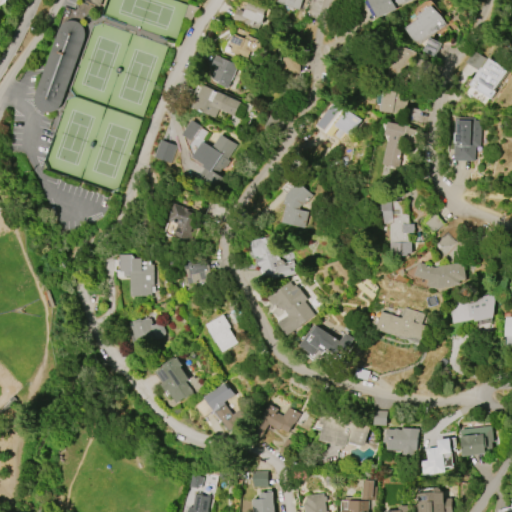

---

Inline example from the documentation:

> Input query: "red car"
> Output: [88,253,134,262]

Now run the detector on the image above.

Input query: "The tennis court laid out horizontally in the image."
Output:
[106,0,188,39]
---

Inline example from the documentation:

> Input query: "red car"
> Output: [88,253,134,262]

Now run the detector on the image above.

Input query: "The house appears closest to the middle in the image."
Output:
[252,238,296,277]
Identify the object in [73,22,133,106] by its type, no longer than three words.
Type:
tennis court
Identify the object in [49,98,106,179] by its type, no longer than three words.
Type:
tennis court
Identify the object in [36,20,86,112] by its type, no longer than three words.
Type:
building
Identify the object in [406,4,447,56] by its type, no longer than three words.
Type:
house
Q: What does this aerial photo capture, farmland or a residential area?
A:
residential area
